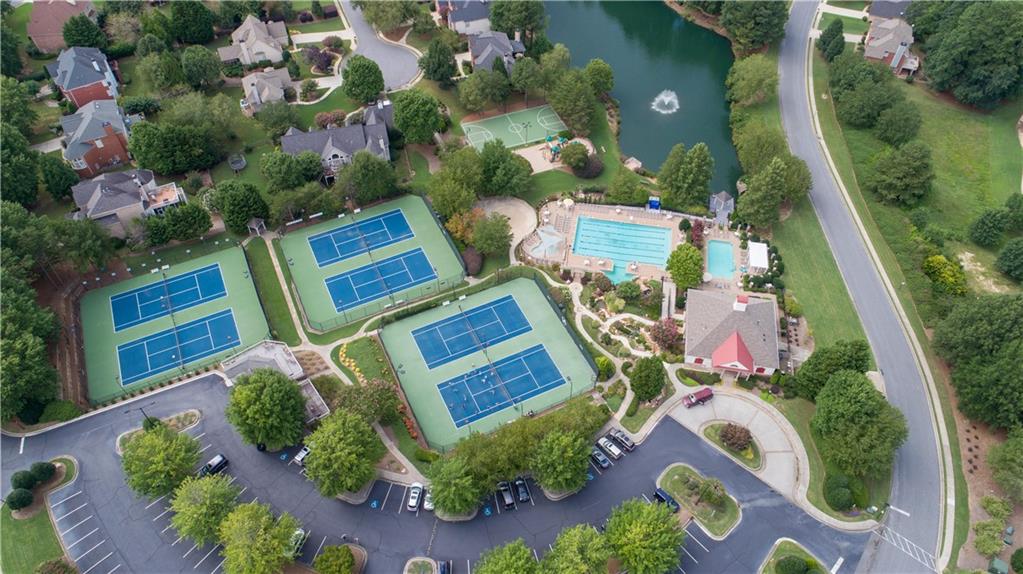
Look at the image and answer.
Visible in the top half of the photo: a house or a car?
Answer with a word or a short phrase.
house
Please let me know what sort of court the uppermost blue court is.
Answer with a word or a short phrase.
tennis court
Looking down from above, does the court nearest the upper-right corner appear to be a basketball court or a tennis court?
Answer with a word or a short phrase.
basketball court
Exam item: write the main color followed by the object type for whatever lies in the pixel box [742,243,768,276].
white tent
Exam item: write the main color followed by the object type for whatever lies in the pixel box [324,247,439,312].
blue tennis court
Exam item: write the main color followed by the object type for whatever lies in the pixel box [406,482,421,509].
white car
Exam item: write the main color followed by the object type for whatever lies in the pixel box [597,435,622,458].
white car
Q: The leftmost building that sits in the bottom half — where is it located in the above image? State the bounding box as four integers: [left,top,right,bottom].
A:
[220,339,306,384]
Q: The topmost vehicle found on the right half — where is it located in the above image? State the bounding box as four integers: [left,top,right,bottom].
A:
[685,387,712,405]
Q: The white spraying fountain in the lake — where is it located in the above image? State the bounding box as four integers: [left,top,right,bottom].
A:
[649,91,681,112]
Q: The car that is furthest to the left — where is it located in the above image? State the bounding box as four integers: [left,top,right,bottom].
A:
[199,452,228,476]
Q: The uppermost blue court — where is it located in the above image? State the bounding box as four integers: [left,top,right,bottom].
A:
[308,208,416,268]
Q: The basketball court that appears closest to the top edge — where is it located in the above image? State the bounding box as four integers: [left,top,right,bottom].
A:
[463,104,567,152]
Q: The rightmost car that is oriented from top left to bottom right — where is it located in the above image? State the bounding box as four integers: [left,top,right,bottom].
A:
[654,485,682,510]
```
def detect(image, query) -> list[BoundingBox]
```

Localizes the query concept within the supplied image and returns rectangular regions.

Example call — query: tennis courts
[437,343,566,428]
[110,263,227,331]
[117,307,242,385]
[308,208,416,268]
[411,293,533,369]
[324,247,439,312]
